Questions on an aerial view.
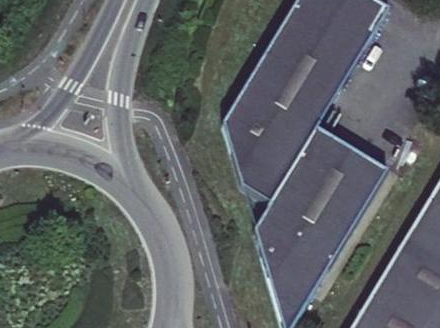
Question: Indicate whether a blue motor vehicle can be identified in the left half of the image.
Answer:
No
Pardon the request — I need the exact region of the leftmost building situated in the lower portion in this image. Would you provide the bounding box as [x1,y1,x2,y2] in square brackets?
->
[256,124,388,328]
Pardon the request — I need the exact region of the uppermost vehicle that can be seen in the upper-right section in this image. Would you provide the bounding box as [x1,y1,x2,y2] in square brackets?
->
[364,48,381,72]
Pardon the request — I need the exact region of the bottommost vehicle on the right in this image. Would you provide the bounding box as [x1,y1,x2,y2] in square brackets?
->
[382,129,402,146]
